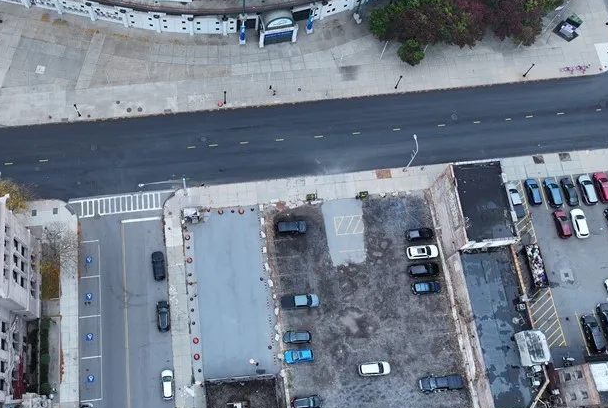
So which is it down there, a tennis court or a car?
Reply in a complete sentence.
Looking from above, you can make out a car.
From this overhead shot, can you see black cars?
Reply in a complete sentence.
Yes, you can see a black car in this photo.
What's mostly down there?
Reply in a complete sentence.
What you mostly see from above here is paved ground.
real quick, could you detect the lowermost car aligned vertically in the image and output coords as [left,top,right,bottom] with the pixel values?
[158,367,175,403]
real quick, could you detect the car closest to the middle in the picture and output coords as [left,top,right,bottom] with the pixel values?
[276,219,307,235]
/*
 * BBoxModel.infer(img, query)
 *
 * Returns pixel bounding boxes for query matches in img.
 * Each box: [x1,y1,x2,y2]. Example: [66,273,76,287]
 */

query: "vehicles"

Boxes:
[601,277,608,294]
[575,176,599,205]
[280,328,313,346]
[404,225,436,242]
[591,173,608,202]
[158,367,175,403]
[290,392,324,408]
[552,210,574,237]
[523,178,545,207]
[282,347,316,365]
[557,178,580,207]
[411,279,440,295]
[542,179,565,208]
[406,243,438,260]
[150,251,166,282]
[357,360,391,378]
[408,260,440,278]
[276,219,307,235]
[592,301,608,338]
[504,182,531,218]
[154,300,171,333]
[567,209,592,239]
[579,315,607,350]
[281,292,319,310]
[420,374,462,392]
